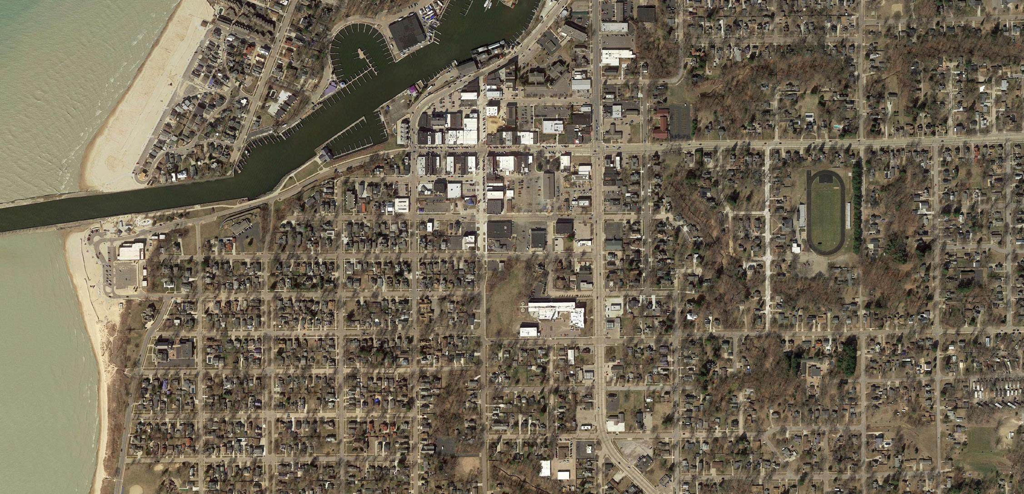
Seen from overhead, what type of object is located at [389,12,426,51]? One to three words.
building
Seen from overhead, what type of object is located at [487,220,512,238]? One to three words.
building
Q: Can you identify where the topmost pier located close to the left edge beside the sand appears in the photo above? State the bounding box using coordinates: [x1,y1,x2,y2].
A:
[0,185,136,209]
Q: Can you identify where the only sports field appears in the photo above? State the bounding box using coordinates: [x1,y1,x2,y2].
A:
[811,174,841,251]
